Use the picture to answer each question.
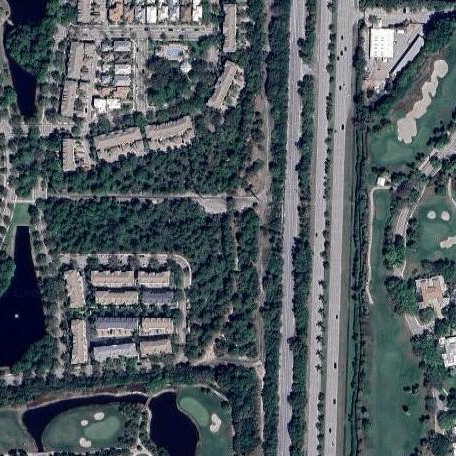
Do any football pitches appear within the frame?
No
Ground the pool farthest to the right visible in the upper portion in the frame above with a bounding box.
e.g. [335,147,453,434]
[157,43,188,60]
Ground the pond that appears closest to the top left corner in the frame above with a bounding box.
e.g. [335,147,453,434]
[4,0,48,117]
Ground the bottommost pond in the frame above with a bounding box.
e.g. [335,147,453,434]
[0,225,46,366]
